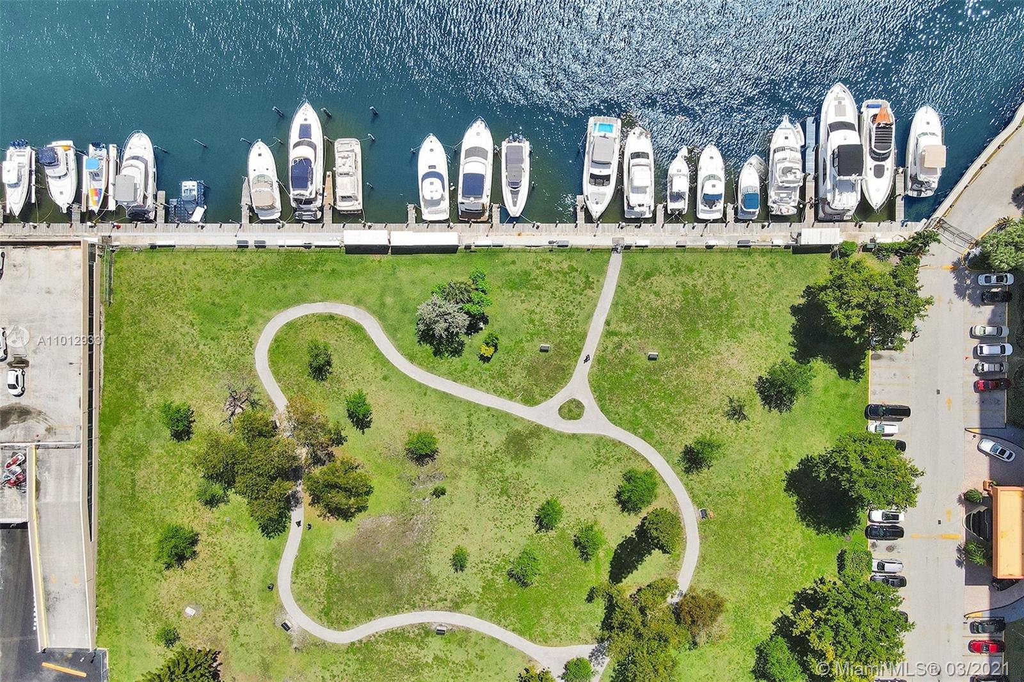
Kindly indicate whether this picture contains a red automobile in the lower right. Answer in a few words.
Yes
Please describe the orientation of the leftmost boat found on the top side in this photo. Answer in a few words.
up and down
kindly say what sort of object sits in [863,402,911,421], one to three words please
car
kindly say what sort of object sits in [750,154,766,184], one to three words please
boat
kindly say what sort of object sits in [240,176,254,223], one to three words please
pier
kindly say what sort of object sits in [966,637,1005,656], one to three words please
car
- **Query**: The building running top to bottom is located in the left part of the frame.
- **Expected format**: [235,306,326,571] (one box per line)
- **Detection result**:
[0,238,102,651]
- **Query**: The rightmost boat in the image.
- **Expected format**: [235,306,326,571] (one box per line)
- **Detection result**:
[902,102,951,202]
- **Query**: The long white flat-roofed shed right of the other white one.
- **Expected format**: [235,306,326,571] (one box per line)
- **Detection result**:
[391,232,459,248]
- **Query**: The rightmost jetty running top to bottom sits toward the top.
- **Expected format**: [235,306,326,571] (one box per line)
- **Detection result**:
[888,167,907,223]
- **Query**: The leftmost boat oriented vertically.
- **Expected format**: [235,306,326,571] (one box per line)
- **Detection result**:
[1,139,36,220]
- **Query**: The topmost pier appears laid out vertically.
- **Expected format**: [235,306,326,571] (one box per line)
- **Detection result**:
[800,115,819,168]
